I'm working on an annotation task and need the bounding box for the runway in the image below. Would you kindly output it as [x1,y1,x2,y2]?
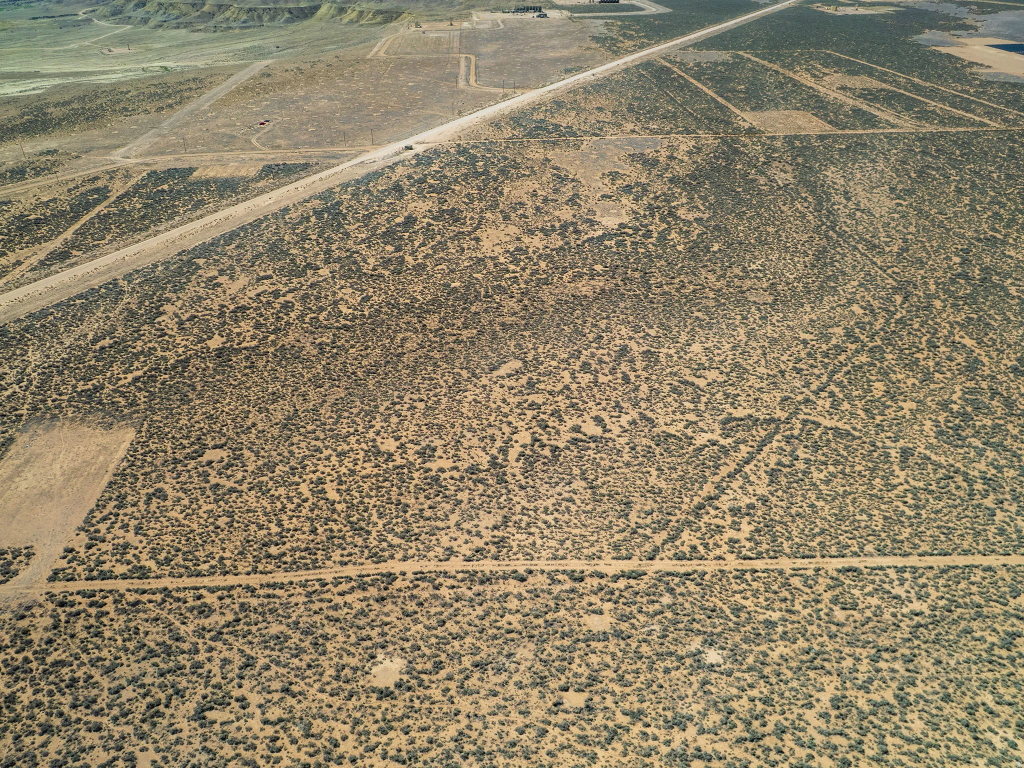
[116,60,276,156]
